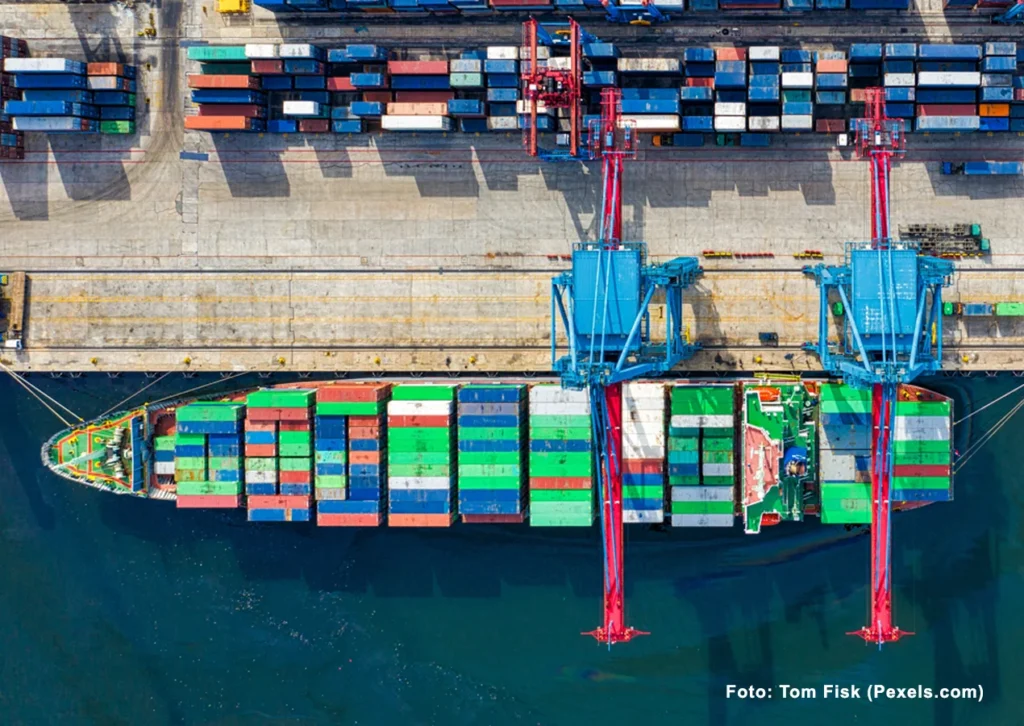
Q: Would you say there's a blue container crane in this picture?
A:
Yes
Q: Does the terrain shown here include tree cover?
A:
No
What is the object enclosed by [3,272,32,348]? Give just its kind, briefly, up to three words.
truck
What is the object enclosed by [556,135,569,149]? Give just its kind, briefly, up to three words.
vehicle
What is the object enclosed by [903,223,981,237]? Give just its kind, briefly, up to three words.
vehicle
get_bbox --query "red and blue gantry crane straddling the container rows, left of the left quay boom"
[523,18,609,159]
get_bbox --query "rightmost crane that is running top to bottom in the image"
[802,89,952,651]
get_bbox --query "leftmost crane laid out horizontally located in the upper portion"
[595,0,673,22]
